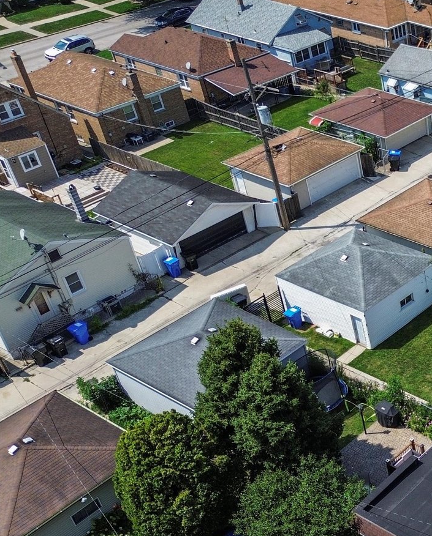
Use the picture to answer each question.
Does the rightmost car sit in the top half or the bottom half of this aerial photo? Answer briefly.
top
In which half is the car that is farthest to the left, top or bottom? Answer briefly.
top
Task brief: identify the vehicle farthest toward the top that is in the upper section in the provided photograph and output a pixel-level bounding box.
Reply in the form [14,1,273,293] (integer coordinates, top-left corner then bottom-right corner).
[157,0,198,26]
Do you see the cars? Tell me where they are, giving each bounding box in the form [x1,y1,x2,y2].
[157,0,198,26]
[46,33,100,62]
